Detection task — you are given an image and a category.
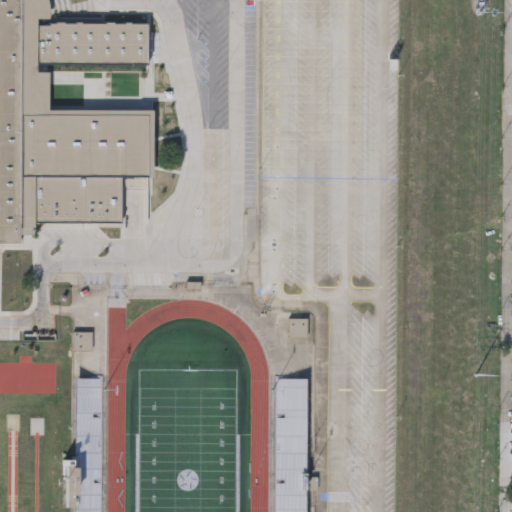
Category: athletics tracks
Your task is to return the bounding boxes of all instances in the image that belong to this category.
[106,298,270,512]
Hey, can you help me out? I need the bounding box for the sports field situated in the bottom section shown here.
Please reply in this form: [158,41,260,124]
[126,318,250,512]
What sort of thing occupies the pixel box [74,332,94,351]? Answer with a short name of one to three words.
building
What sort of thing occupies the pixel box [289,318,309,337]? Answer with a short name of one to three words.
building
